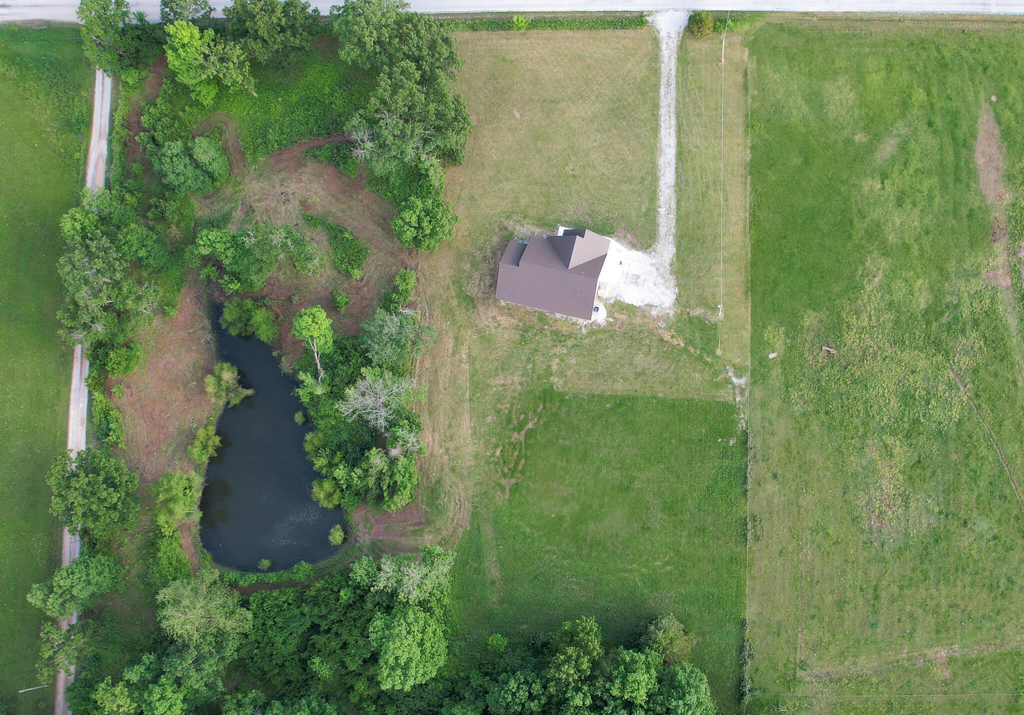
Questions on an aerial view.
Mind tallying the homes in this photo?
1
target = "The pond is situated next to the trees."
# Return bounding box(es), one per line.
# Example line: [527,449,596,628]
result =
[202,300,348,572]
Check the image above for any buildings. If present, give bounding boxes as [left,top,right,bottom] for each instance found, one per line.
[496,226,615,327]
